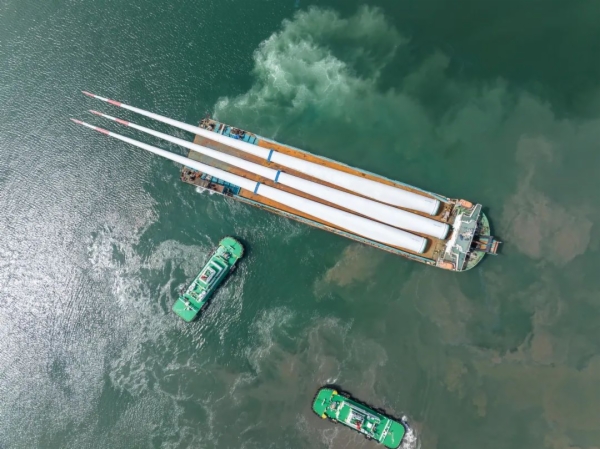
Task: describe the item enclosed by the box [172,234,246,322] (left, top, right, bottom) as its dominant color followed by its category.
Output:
green boat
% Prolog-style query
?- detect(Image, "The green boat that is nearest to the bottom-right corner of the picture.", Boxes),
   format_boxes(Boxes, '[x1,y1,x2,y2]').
[311,385,405,449]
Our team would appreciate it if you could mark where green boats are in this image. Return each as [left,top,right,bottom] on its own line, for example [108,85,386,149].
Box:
[311,385,405,449]
[172,234,246,322]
